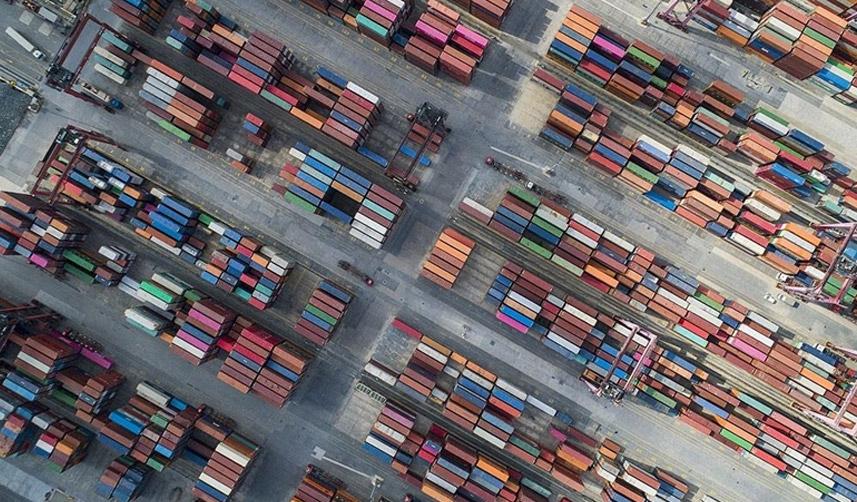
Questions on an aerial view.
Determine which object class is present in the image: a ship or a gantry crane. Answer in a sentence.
The image shows a gantry crane.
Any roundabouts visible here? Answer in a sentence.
No, no roundabout is visible in the view.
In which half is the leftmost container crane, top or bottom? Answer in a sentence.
The bottom half of the photo is where the leftmost container crane is.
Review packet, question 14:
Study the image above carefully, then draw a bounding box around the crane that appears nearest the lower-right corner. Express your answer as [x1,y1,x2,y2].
[787,336,857,436]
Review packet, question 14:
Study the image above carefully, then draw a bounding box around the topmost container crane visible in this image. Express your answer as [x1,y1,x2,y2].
[655,0,716,34]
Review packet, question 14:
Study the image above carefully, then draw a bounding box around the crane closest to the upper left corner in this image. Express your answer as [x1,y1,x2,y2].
[42,8,146,114]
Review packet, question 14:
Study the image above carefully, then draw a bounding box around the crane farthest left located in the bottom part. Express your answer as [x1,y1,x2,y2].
[0,300,64,388]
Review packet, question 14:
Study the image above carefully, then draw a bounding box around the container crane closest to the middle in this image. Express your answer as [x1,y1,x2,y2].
[377,105,445,201]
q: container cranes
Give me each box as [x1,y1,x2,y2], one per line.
[787,336,857,436]
[575,309,664,405]
[0,300,64,388]
[770,218,857,308]
[21,123,129,218]
[377,105,445,201]
[42,8,146,114]
[655,0,716,34]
